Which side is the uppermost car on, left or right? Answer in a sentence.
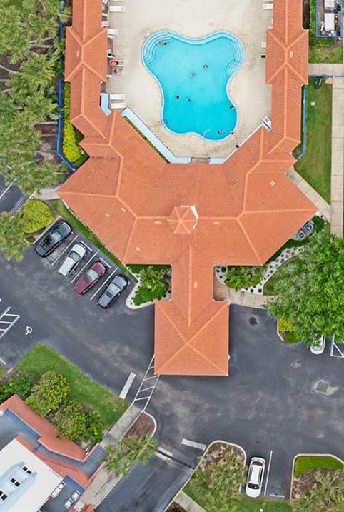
The uppermost car appears in the left half of the scene.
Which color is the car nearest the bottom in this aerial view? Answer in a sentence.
In this view, the car nearest the bottom is white.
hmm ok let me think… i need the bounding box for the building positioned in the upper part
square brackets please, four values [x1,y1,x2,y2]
[56,0,318,376]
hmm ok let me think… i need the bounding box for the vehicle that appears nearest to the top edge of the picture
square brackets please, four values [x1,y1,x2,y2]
[36,222,74,255]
